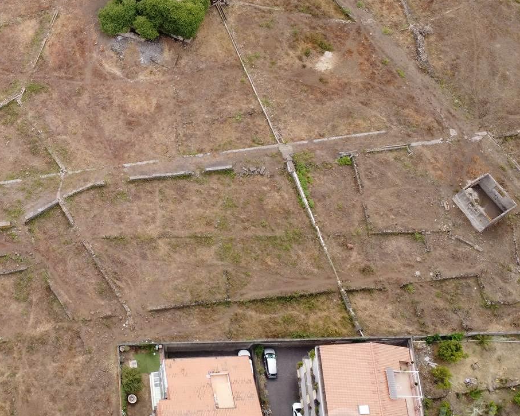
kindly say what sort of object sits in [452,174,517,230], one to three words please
house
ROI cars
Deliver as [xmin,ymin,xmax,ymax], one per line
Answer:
[289,402,300,416]
[261,349,279,379]
[237,349,256,376]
